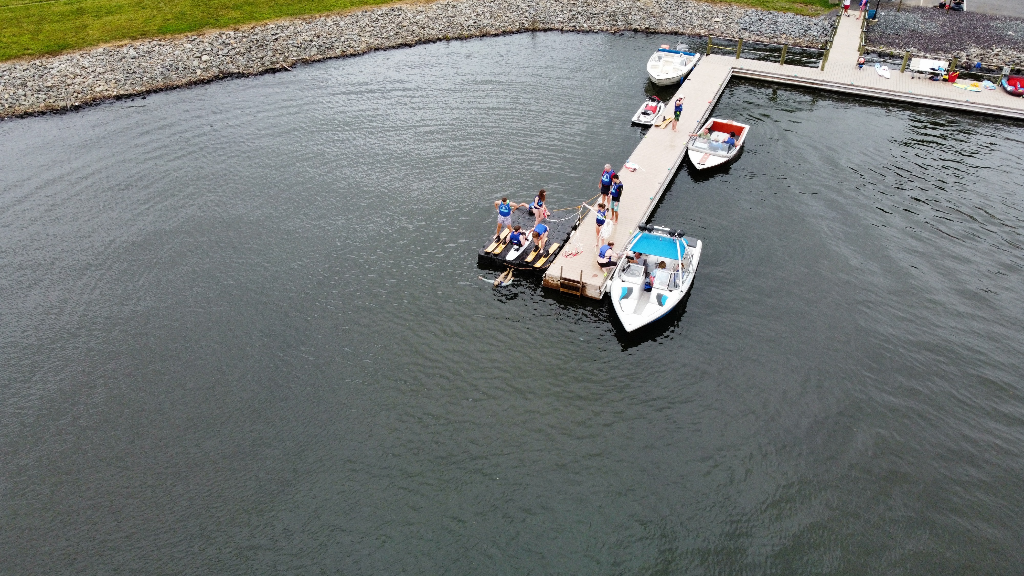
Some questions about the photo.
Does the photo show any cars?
No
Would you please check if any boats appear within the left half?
No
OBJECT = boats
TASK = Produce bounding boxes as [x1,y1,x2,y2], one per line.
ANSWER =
[645,36,699,86]
[688,119,751,172]
[631,95,667,129]
[611,221,702,338]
